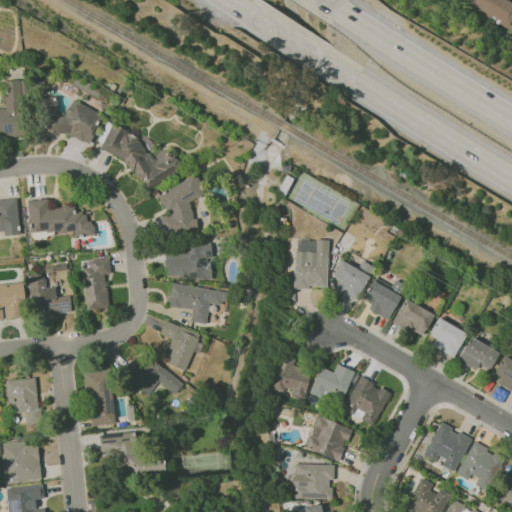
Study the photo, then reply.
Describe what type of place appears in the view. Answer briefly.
residential area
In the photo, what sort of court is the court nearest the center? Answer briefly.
tennis court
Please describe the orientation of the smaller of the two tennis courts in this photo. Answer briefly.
from left to right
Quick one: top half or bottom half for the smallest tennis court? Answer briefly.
bottom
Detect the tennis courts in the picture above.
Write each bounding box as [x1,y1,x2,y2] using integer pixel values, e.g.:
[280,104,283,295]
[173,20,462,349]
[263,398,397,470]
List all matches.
[290,173,359,230]
[182,452,232,472]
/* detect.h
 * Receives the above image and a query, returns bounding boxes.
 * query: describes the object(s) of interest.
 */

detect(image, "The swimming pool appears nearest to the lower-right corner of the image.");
[456,477,478,491]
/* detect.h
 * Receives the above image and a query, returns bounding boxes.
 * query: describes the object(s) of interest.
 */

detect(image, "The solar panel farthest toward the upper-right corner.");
[298,240,316,252]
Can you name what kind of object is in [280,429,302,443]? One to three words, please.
swimming pool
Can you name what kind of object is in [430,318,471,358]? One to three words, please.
house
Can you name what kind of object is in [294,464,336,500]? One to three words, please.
house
